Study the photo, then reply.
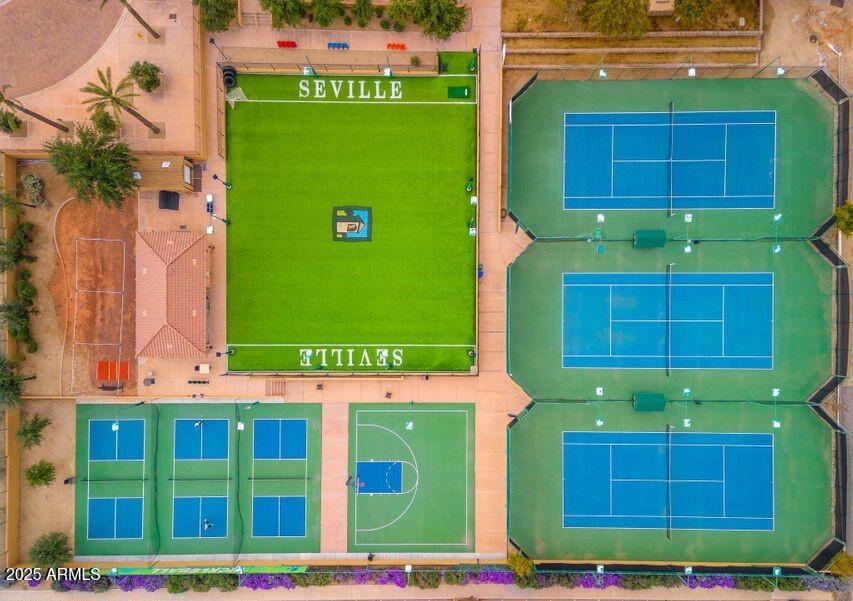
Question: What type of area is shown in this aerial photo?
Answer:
sports ground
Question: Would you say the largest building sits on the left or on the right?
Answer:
left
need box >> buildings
[135,230,211,358]
[133,153,192,192]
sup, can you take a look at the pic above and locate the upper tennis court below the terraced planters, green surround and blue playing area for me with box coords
[513,78,834,240]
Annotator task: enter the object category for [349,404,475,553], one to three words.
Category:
basketball court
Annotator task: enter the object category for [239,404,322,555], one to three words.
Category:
sports court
